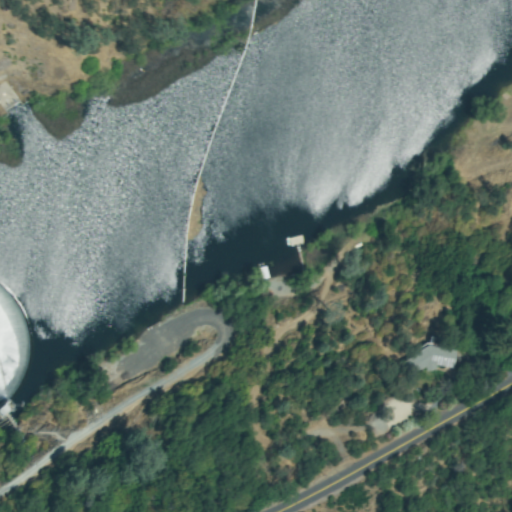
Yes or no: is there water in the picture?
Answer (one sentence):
Yes, there is water in the image.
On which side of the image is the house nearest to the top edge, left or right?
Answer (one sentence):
It is on the right.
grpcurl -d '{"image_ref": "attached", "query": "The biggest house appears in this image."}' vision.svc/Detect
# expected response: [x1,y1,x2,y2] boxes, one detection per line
[408,339,462,374]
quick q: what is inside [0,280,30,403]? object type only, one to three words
dam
